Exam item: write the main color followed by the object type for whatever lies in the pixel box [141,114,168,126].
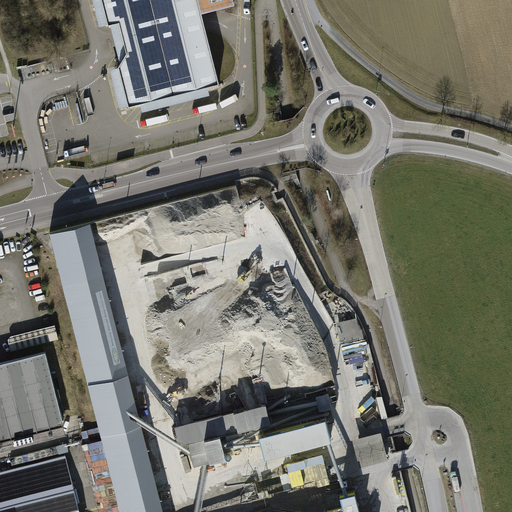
white vehicle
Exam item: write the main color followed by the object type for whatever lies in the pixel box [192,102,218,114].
white vehicle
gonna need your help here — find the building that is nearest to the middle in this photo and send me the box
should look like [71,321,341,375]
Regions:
[338,318,364,344]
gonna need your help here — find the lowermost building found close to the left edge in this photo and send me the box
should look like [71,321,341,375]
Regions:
[0,456,80,512]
